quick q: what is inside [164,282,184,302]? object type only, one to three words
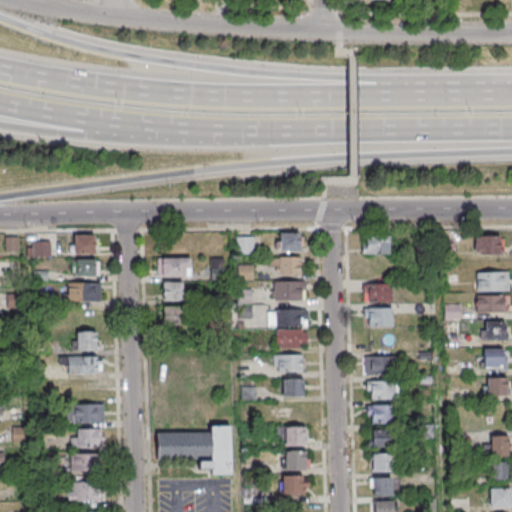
house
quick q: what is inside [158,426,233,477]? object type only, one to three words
building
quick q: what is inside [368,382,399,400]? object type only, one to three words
house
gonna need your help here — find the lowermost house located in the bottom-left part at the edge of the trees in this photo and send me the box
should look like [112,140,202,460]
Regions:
[68,484,104,508]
